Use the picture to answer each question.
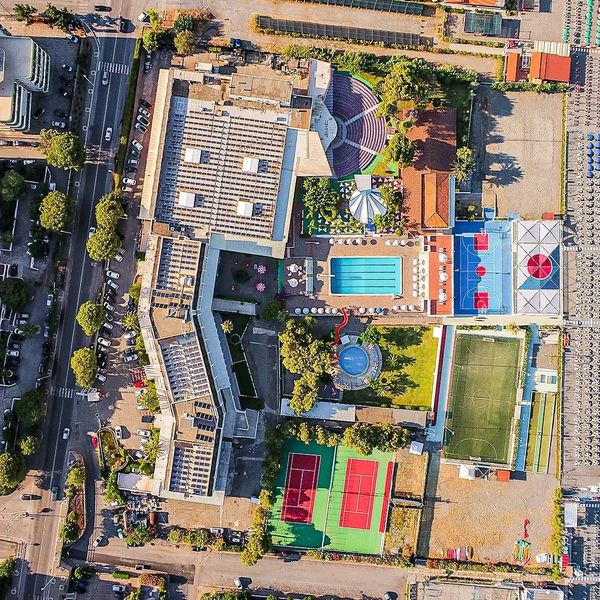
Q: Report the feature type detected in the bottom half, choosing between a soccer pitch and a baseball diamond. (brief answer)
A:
soccer pitch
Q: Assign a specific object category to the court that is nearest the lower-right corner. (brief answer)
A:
tennis court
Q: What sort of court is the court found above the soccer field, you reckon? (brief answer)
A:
basketball court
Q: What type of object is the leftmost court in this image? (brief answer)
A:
tennis court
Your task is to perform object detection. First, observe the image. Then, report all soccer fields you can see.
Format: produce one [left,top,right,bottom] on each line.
[444,335,523,466]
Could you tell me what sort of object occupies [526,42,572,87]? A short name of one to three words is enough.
building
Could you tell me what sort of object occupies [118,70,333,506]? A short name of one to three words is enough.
building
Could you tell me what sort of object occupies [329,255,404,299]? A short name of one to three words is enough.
swimming pool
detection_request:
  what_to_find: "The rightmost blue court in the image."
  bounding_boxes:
[454,221,513,315]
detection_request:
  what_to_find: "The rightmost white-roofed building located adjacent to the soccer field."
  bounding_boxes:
[533,369,558,392]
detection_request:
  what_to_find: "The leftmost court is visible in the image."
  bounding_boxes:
[266,439,338,550]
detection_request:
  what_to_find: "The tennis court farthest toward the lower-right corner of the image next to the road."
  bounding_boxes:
[324,446,398,557]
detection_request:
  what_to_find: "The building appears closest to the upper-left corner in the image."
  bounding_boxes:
[0,35,53,133]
